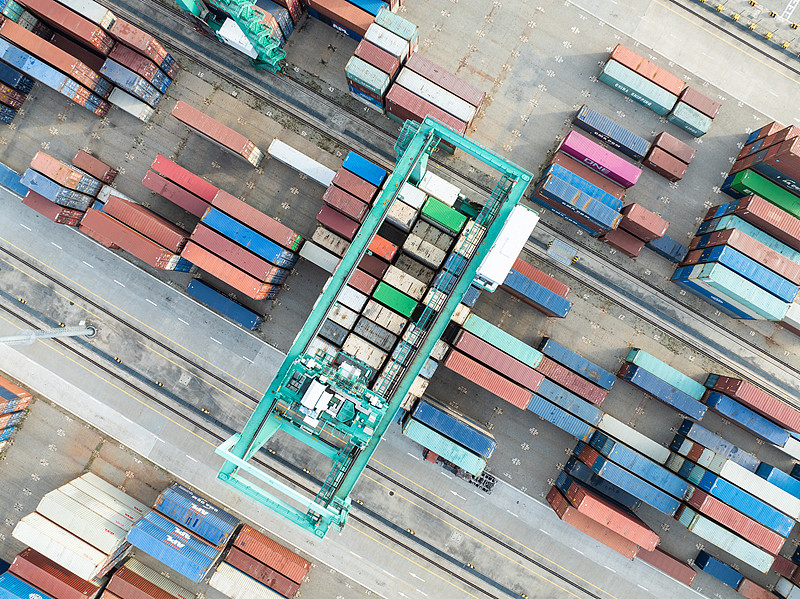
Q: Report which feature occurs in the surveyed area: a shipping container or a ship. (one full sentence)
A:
I can see a shipping container in this picture.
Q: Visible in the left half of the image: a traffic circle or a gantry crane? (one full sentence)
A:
The feature located in the left half of the image is a gantry crane.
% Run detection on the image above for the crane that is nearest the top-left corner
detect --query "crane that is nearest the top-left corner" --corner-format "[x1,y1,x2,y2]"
[173,0,291,78]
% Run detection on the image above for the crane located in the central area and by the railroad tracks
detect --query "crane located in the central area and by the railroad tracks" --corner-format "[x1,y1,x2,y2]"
[211,111,550,546]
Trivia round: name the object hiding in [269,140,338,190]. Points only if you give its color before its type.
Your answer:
white shipping container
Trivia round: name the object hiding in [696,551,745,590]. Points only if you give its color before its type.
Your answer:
blue shipping container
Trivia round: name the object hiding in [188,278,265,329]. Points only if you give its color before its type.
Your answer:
blue shipping container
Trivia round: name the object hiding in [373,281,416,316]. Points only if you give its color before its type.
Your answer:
green shipping container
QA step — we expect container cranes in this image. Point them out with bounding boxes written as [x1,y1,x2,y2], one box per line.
[173,0,291,78]
[211,111,550,546]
